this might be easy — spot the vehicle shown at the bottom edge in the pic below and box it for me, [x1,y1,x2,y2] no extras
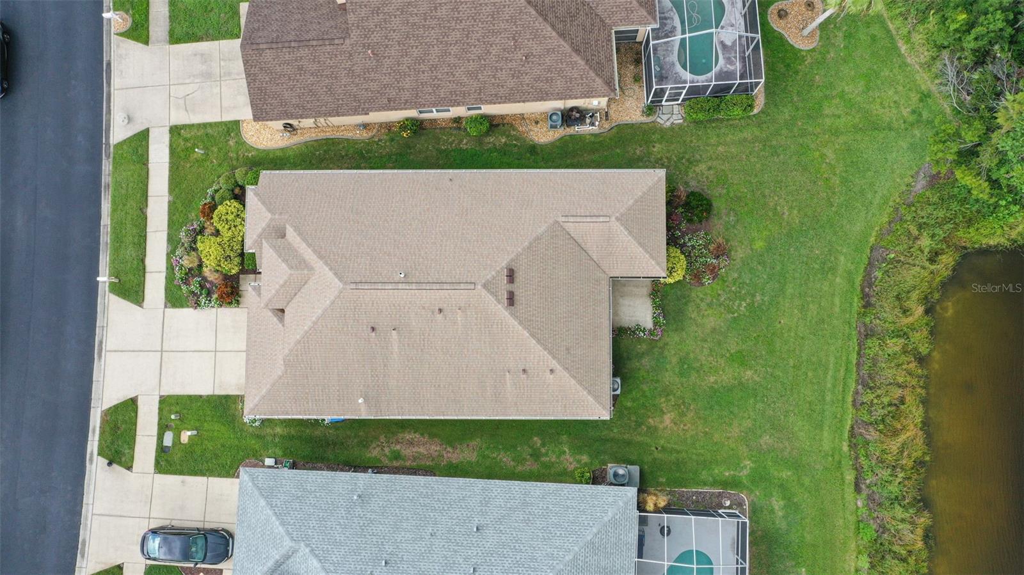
[139,523,235,569]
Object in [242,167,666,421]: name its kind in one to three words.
house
